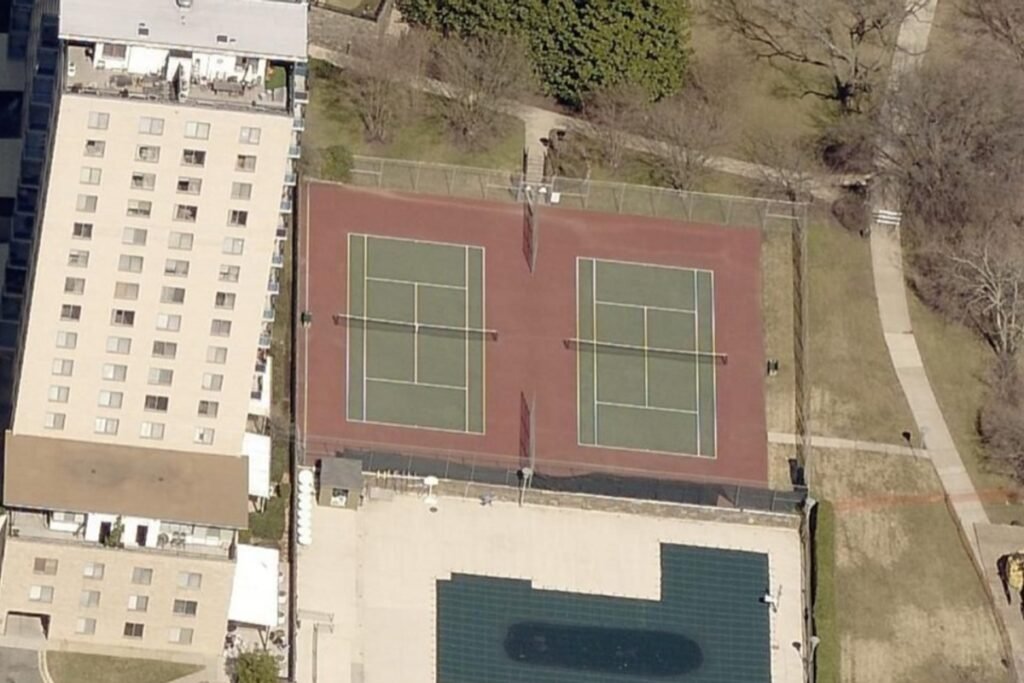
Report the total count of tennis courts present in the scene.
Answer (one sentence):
I count 2 tennis courts.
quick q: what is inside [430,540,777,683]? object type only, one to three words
swimming pool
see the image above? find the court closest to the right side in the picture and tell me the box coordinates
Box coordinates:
[531,204,766,511]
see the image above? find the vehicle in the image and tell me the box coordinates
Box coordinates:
[1004,554,1024,595]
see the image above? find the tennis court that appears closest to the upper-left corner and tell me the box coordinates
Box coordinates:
[300,181,531,488]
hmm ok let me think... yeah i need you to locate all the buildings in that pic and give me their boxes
[0,0,308,656]
[318,459,361,509]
